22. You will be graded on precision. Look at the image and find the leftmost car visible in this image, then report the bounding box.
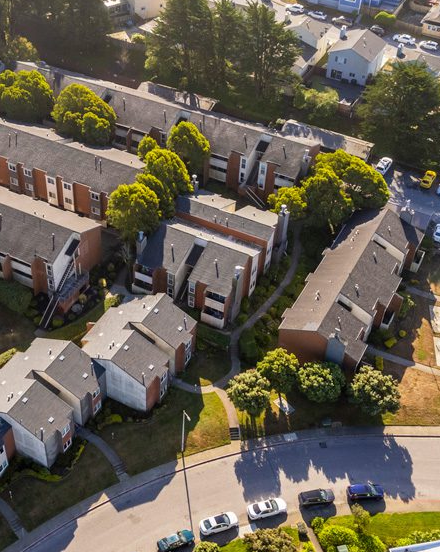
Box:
[153,529,198,552]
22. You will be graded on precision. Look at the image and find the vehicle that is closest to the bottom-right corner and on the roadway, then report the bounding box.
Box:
[344,482,386,503]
